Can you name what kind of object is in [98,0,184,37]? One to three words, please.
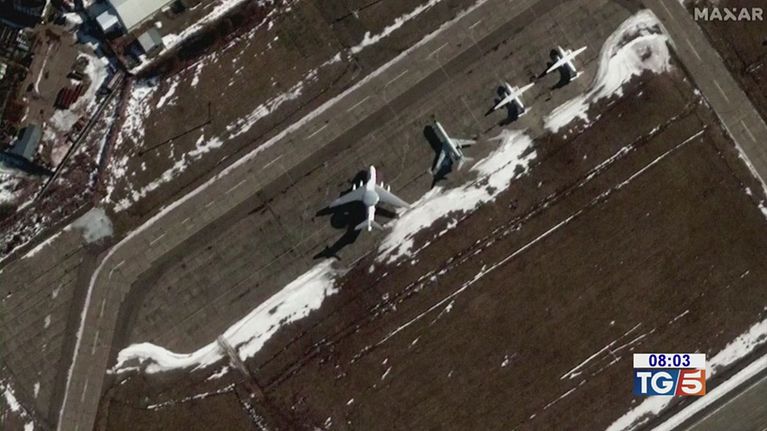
hangar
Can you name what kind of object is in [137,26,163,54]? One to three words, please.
house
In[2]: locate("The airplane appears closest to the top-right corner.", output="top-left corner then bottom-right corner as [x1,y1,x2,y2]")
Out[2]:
[545,44,588,78]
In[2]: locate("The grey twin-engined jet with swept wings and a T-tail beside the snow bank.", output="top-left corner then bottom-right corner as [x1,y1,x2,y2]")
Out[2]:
[434,124,479,170]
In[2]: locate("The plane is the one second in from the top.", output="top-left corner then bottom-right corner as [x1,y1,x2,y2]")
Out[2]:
[494,80,536,115]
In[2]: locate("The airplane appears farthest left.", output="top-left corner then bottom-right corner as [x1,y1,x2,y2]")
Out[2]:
[330,166,411,230]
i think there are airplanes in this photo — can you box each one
[434,124,479,170]
[545,44,588,78]
[330,166,411,230]
[494,80,536,115]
